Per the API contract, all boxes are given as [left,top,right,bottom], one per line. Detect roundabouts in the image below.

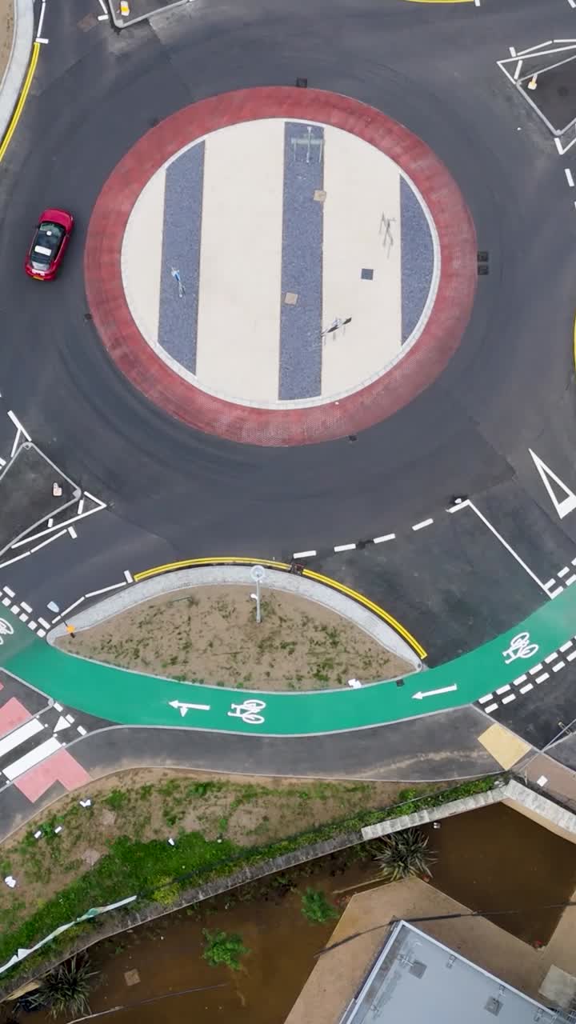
[83,87,478,446]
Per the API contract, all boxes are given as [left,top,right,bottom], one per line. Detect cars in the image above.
[25,211,74,283]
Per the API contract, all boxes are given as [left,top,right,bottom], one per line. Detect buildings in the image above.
[331,922,562,1024]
